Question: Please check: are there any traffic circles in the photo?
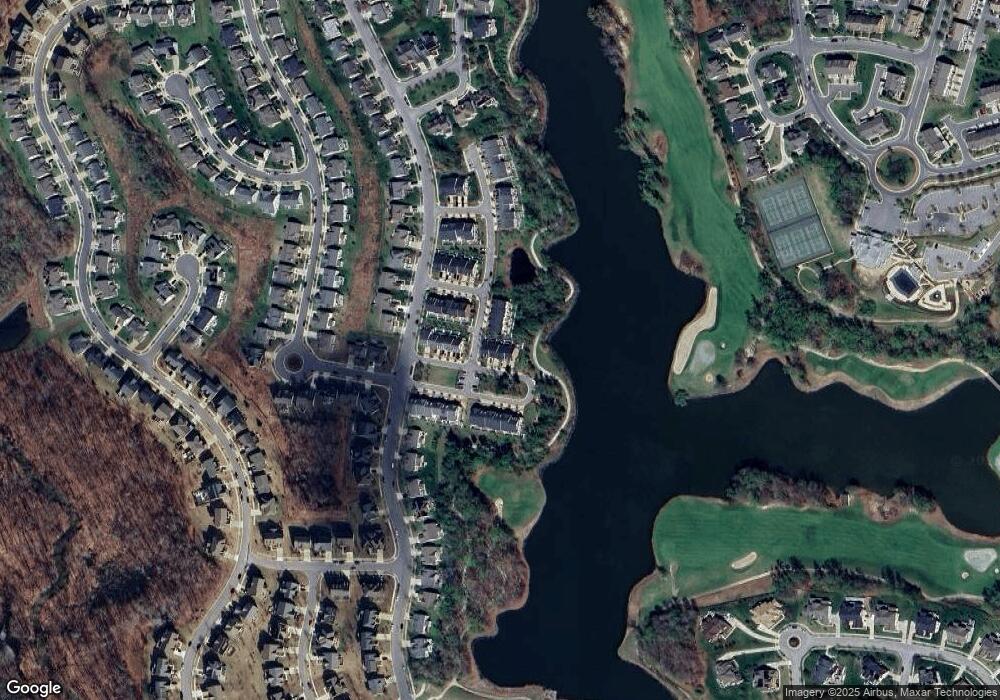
Yes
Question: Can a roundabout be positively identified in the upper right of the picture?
Yes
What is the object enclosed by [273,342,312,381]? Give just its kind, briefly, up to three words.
roundabout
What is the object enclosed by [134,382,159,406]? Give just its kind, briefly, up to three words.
house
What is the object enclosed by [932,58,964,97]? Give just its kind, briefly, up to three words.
building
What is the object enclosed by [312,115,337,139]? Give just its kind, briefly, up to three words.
house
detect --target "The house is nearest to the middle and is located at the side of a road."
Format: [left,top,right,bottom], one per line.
[479,337,516,365]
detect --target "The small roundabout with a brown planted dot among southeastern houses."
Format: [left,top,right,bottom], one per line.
[778,625,810,657]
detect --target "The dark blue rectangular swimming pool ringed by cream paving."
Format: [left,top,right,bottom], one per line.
[886,264,923,303]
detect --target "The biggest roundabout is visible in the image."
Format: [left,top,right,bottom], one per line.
[866,137,930,200]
